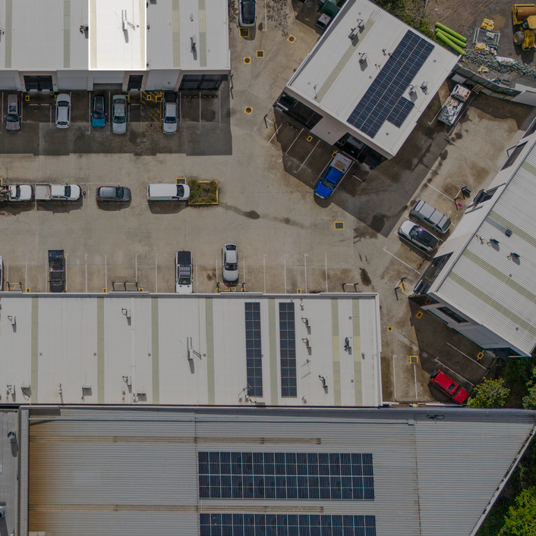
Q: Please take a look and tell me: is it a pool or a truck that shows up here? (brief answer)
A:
truck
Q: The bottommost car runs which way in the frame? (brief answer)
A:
on a diagonal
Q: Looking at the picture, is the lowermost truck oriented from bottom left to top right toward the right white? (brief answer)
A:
No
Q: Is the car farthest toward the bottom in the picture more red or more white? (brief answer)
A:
red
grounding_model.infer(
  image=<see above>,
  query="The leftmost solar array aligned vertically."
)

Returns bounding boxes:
[245,302,263,397]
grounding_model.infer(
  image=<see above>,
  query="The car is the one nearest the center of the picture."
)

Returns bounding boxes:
[222,243,241,285]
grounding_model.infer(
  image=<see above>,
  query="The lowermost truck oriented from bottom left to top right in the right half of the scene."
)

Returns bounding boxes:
[315,152,353,198]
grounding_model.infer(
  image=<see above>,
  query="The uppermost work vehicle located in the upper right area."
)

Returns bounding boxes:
[515,7,536,55]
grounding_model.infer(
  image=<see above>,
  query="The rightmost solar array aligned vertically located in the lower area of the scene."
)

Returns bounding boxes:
[280,302,298,398]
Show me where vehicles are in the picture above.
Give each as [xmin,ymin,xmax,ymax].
[428,369,471,404]
[222,243,241,285]
[47,248,66,292]
[2,183,32,202]
[160,91,180,135]
[36,183,82,202]
[515,7,536,55]
[436,82,472,128]
[146,183,190,203]
[237,0,255,28]
[173,250,193,292]
[95,184,133,203]
[110,95,129,134]
[315,152,353,198]
[407,199,451,234]
[53,92,72,132]
[89,94,108,130]
[395,221,440,253]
